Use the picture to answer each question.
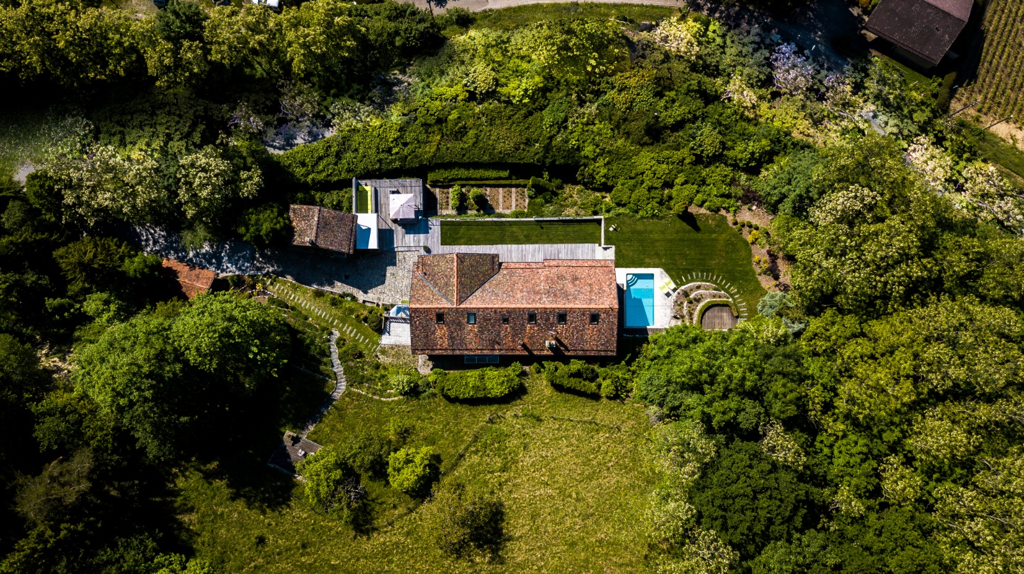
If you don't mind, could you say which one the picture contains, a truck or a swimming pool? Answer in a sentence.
This aerial view contains a swimming pool.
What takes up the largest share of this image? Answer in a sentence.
For the most part, this view shows trees.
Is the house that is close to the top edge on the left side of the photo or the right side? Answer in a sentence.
It is on the right.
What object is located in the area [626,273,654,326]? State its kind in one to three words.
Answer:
swimming pool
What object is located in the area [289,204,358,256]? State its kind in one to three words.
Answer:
shed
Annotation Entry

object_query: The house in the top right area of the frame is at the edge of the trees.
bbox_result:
[852,0,986,78]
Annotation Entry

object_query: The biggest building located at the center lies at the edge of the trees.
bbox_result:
[409,252,619,364]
